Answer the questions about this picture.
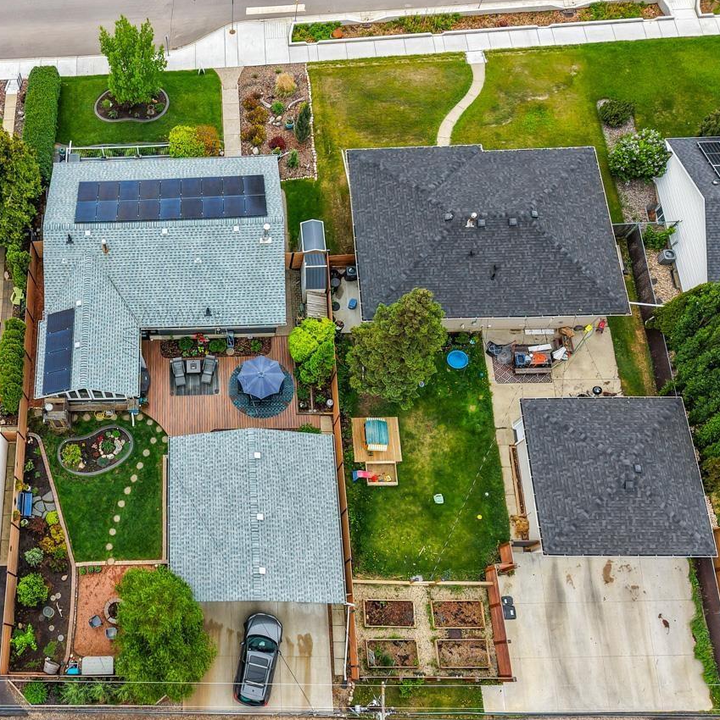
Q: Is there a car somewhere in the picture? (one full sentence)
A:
Yes, there is a car in the image.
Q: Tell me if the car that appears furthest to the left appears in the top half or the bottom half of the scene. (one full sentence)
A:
The car that appears furthest to the left sits in the bottom half of the picture.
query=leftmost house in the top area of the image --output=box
[31,154,287,407]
